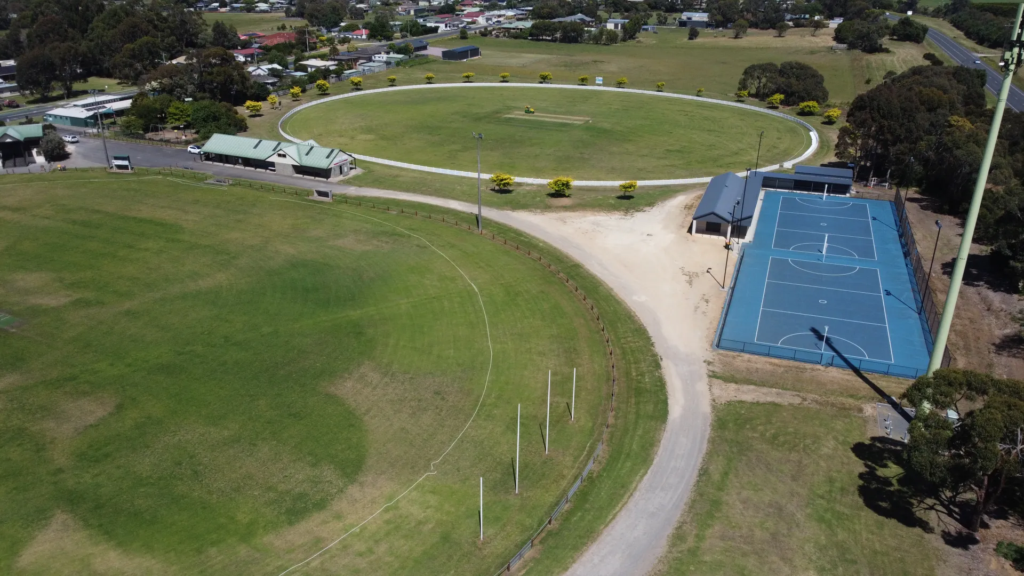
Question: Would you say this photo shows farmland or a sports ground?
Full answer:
What you see here is a sports ground.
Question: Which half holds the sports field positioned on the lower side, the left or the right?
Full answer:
The sports field positioned on the lower side appears in the left half of the scene.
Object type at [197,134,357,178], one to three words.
building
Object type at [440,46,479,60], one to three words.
shed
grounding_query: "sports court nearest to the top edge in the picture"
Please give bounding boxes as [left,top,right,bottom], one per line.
[773,196,876,259]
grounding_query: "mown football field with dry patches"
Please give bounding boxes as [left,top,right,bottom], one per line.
[0,169,613,576]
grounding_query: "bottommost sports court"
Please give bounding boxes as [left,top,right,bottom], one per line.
[756,256,893,362]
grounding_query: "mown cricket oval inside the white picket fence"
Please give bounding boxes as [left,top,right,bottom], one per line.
[277,84,820,185]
